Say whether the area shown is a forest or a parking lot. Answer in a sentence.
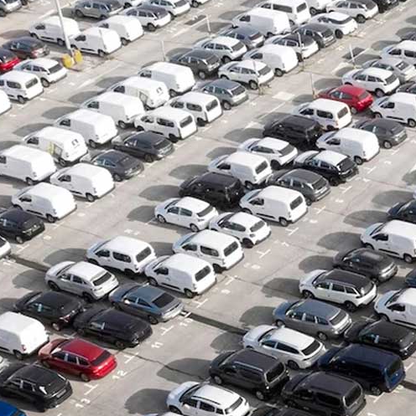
It's a parking lot.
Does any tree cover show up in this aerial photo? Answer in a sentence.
No, the scene doesn't show any tree cover.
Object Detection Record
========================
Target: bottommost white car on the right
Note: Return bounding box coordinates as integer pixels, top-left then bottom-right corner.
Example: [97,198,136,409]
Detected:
[231,321,318,367]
